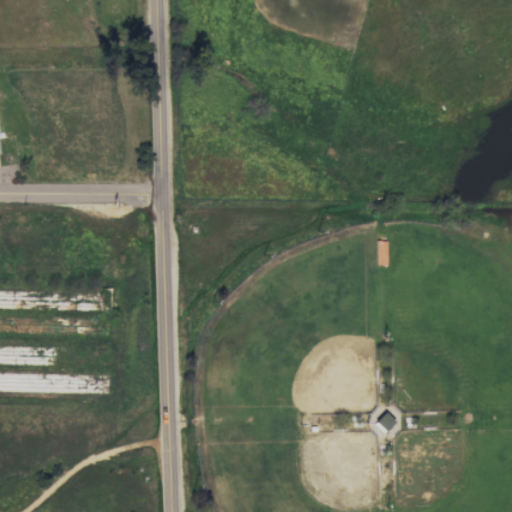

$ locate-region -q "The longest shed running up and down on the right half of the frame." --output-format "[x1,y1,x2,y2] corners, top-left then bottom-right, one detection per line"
[377,240,389,266]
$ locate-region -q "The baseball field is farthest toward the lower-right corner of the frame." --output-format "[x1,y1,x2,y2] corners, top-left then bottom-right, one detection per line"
[397,432,512,512]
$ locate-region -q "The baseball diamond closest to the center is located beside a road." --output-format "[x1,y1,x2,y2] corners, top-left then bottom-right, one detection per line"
[203,232,376,412]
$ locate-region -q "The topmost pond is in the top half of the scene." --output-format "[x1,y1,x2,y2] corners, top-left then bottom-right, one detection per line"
[456,101,512,201]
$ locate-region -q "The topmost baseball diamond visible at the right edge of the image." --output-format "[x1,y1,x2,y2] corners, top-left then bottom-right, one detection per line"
[396,226,512,410]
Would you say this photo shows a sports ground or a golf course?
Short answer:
sports ground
